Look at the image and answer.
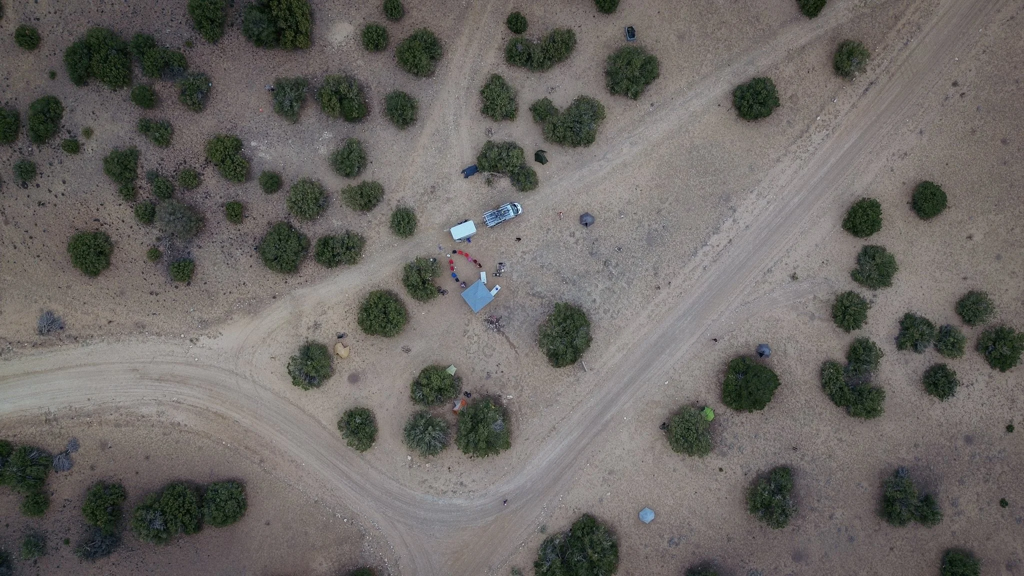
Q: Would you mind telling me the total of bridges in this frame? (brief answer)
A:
0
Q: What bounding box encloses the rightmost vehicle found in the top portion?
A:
[483,201,523,228]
